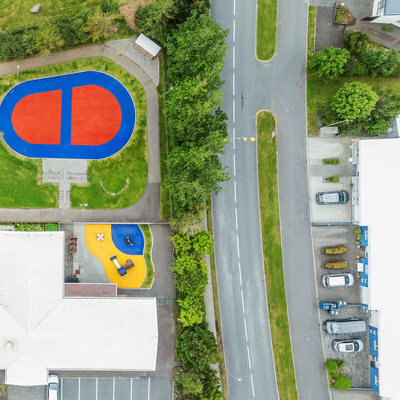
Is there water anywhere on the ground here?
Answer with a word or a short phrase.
No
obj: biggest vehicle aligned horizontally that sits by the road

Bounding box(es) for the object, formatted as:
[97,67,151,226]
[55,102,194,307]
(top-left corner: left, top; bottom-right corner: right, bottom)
[323,317,371,335]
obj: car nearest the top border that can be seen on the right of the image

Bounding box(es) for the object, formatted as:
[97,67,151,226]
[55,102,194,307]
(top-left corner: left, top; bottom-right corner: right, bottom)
[314,189,348,205]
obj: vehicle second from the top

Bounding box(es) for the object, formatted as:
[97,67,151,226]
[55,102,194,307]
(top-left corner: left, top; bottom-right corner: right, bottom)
[320,272,353,288]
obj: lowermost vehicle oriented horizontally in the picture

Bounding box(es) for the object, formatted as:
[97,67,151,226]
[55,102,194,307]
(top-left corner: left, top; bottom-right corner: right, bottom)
[331,338,364,354]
